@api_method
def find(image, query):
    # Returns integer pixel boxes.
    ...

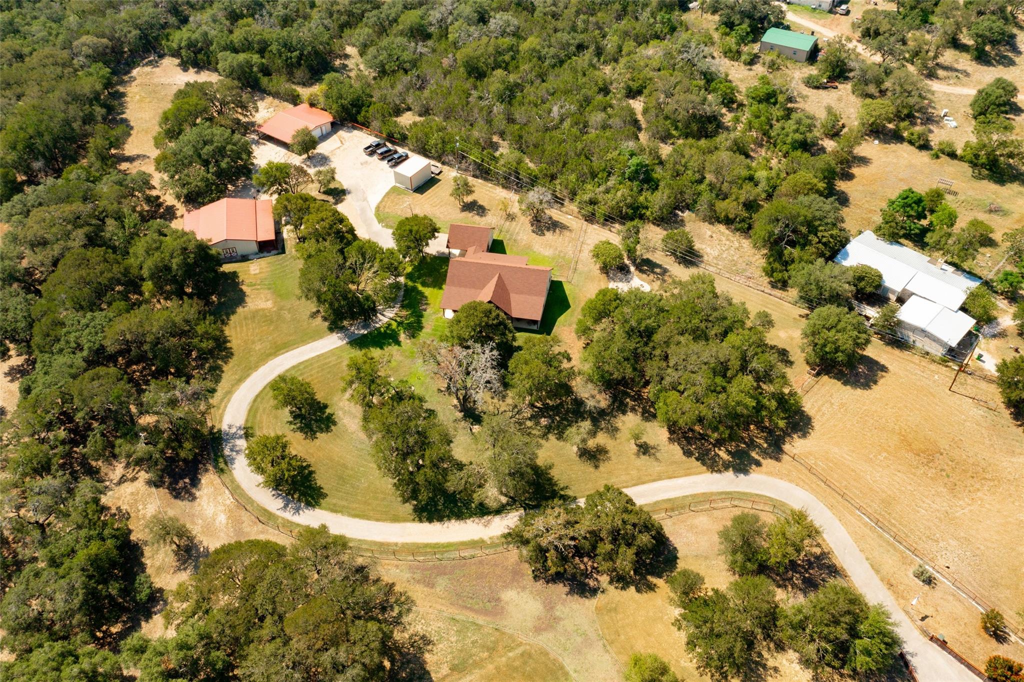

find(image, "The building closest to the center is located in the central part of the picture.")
[438,221,554,330]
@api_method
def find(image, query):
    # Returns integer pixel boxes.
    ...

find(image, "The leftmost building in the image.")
[182,198,279,263]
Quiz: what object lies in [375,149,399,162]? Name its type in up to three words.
vehicle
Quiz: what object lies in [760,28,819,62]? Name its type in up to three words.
shed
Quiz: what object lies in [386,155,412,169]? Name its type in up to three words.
vehicle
